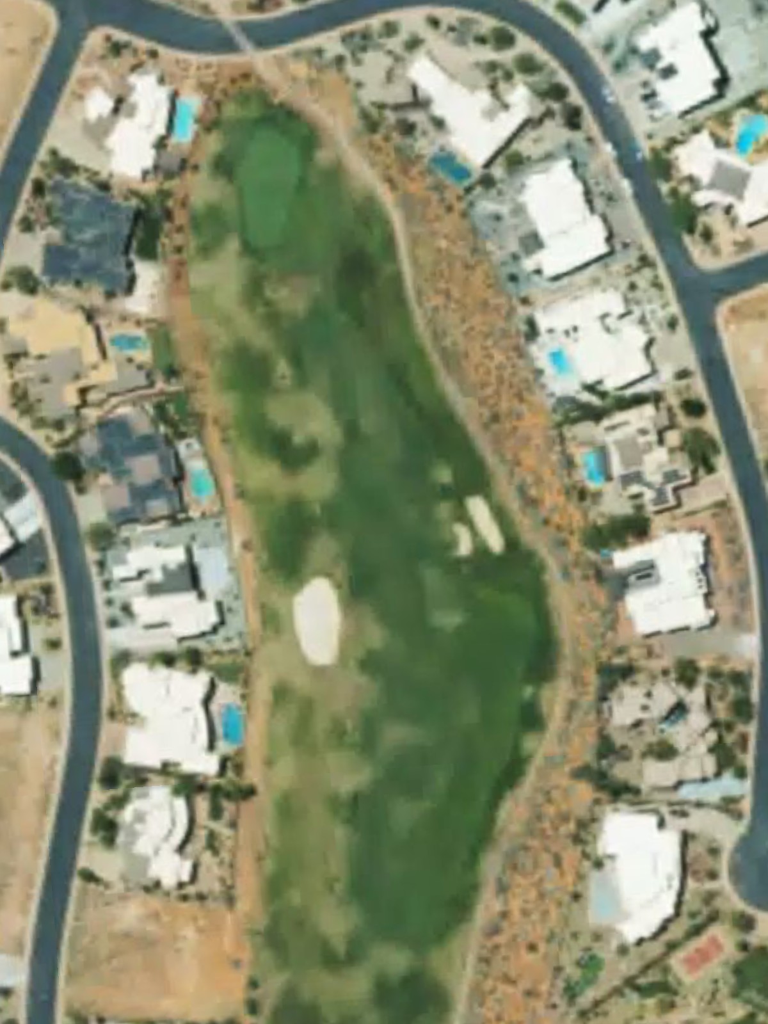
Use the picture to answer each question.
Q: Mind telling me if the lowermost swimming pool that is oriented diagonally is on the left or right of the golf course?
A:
on its right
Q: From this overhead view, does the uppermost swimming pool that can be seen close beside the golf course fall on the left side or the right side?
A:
left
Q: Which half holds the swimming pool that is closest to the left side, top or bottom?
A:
top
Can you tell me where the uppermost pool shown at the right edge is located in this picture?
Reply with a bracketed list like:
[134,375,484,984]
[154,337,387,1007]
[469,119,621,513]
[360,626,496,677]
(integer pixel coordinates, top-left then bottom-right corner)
[736,112,768,158]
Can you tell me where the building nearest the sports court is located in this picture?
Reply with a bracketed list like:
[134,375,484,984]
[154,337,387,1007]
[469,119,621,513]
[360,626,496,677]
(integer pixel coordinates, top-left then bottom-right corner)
[598,813,684,945]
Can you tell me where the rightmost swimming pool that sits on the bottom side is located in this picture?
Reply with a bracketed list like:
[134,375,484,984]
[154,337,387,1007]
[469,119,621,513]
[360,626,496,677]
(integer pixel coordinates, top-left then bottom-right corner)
[665,701,688,727]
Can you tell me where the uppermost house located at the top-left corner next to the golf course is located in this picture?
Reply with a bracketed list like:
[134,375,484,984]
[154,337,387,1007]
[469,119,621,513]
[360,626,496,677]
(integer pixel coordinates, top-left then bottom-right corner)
[104,74,170,179]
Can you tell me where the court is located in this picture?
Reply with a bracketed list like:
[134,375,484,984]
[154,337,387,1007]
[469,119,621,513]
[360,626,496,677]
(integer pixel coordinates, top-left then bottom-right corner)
[672,927,731,979]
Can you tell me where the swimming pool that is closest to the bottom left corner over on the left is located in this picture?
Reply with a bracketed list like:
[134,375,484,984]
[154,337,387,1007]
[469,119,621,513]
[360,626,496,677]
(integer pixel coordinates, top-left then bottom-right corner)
[221,702,245,747]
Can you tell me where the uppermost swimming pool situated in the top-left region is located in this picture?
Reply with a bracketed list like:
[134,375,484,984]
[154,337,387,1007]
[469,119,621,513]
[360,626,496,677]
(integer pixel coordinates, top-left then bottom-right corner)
[173,96,197,141]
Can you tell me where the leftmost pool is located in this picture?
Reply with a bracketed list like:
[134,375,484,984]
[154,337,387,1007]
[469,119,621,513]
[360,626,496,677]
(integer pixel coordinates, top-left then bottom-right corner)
[111,332,147,352]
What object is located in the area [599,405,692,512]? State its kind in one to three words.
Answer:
house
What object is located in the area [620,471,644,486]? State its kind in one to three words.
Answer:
solar panel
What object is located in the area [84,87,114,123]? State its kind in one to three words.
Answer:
building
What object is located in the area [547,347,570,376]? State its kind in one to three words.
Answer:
swimming pool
